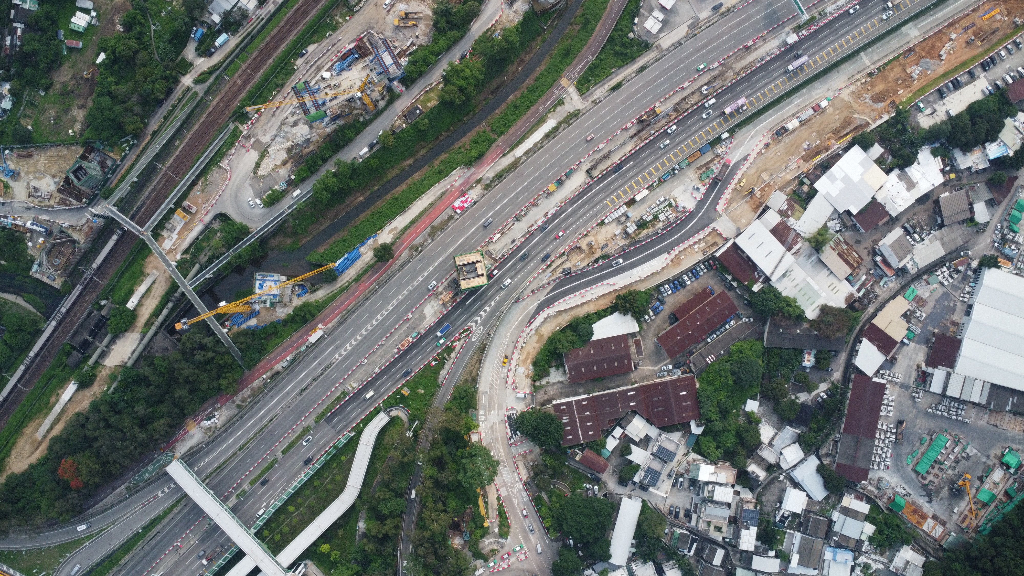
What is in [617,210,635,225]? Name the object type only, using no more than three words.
vehicle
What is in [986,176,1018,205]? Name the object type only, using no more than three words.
shed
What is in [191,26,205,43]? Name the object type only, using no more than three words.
vehicle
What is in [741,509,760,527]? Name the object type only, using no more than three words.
solar array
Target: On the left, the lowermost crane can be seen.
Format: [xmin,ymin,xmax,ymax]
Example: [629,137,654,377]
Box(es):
[175,261,336,330]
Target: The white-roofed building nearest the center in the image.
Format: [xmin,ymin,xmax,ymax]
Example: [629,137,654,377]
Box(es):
[589,312,639,340]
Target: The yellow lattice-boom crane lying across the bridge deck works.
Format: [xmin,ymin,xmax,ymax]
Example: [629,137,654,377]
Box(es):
[246,72,376,112]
